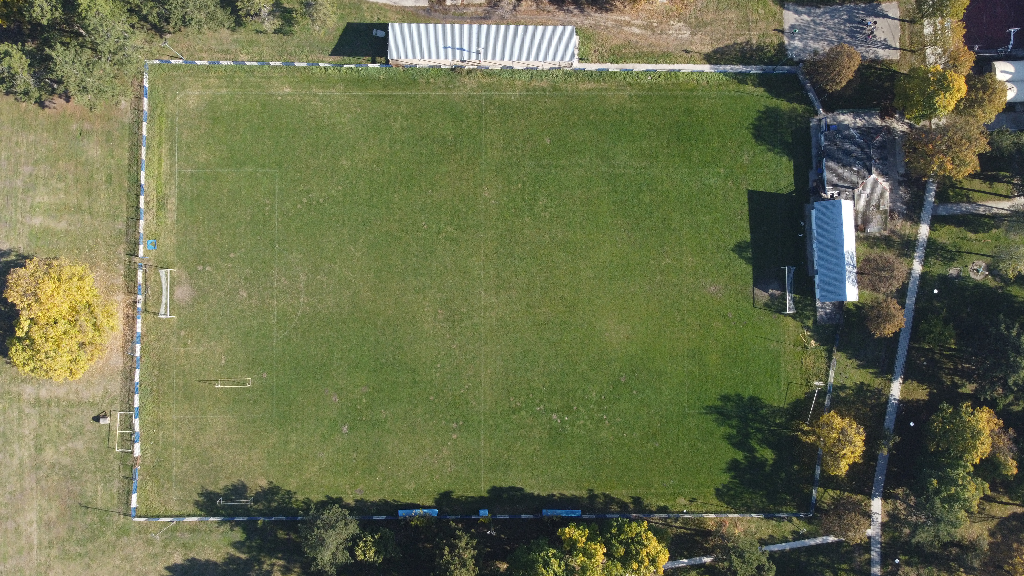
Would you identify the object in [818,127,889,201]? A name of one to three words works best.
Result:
building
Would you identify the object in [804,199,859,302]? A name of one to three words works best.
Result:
building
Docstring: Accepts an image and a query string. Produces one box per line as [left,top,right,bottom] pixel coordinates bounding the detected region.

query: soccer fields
[136,64,839,518]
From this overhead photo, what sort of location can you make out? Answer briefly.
sports ground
